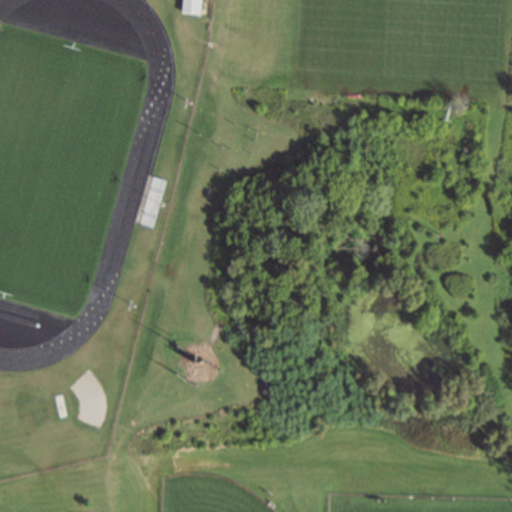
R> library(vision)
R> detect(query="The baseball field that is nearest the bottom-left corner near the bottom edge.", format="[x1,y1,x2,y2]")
[162,473,276,512]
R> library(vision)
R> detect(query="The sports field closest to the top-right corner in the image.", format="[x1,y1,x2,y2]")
[289,0,507,93]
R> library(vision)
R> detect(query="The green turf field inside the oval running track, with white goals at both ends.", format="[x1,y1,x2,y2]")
[0,22,149,321]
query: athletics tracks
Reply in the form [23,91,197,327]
[0,0,173,373]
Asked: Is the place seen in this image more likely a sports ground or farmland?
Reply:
sports ground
